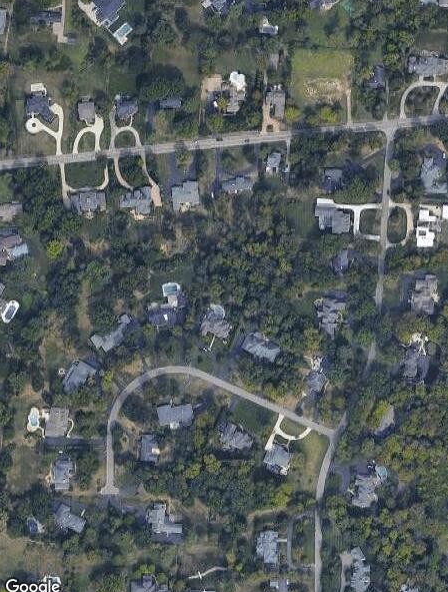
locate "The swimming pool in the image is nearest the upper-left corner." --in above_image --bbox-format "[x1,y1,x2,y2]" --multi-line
[113,21,133,39]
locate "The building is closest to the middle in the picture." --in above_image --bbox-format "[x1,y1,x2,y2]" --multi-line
[200,302,230,337]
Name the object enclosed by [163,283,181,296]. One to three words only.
swimming pool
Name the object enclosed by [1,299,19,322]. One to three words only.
swimming pool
